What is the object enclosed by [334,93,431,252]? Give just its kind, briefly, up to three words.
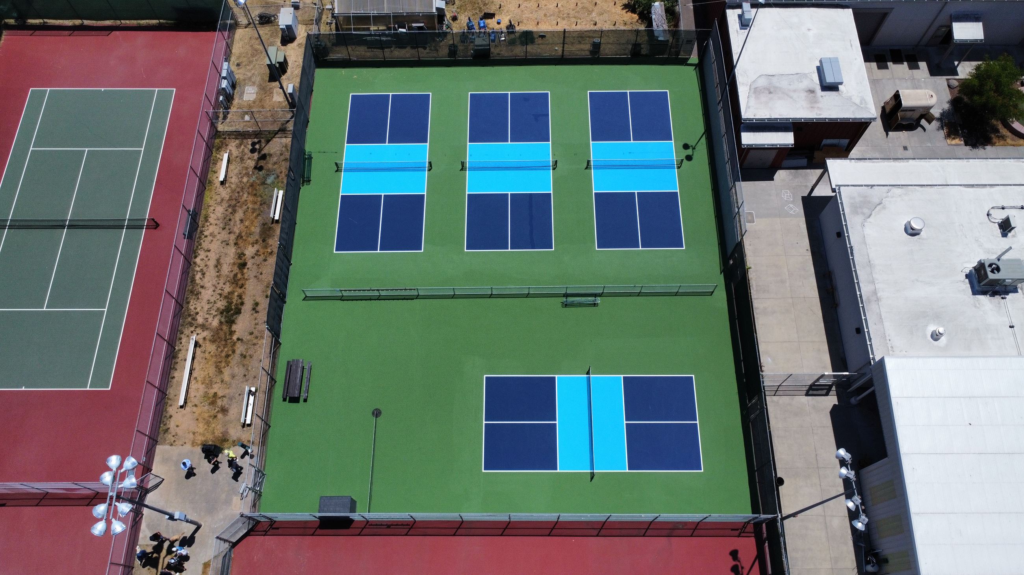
sports court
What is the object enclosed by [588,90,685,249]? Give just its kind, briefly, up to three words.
sports court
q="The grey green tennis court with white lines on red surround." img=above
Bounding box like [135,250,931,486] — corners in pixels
[0,88,175,390]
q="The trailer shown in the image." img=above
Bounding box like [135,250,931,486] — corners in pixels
[876,90,940,128]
